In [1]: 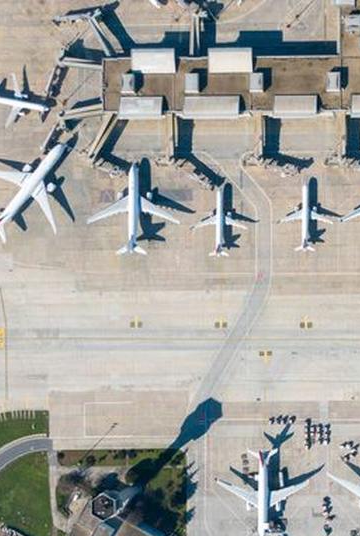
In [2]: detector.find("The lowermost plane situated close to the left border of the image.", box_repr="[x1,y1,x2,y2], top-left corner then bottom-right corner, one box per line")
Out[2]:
[0,145,64,241]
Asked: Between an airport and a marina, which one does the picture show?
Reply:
airport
